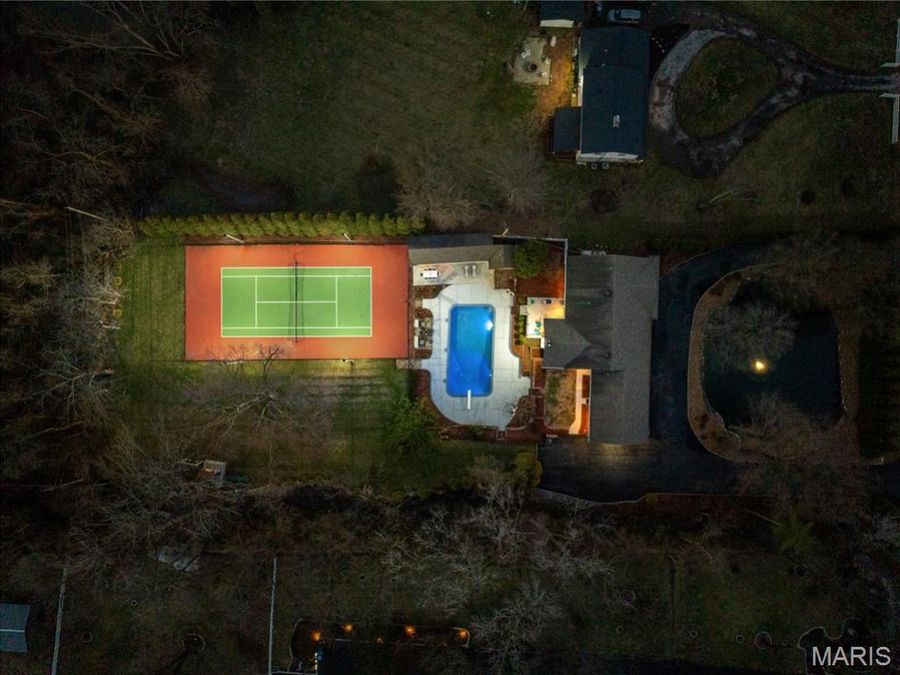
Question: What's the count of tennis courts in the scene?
1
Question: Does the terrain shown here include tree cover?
Yes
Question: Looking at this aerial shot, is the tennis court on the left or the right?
left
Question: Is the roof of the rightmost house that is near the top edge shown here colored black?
Yes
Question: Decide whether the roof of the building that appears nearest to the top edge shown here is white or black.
black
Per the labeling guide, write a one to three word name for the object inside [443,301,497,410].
swimming pool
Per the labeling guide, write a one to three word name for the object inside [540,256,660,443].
house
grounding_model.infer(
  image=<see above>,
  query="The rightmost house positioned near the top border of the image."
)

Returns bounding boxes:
[577,25,650,163]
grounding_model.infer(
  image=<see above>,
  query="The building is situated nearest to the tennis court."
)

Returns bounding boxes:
[408,233,500,267]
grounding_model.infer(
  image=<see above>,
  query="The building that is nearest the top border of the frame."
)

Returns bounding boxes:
[540,0,584,30]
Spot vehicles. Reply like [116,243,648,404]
[610,5,642,21]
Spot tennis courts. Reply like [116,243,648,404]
[185,244,409,360]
